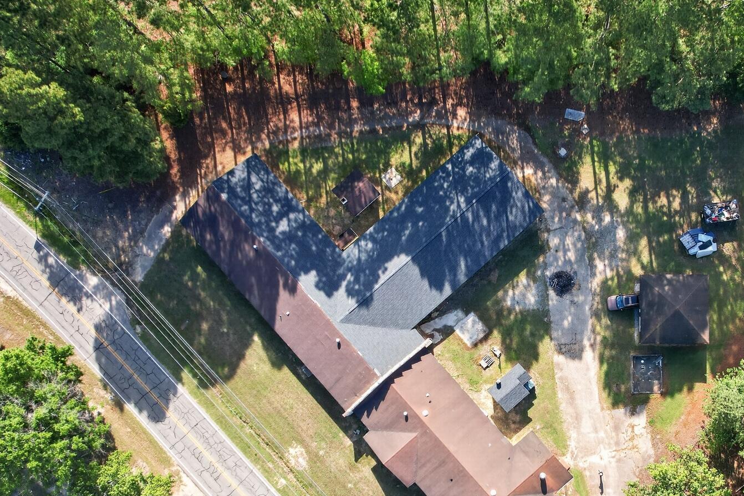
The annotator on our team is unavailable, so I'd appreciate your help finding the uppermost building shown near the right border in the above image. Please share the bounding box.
[638,274,710,345]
